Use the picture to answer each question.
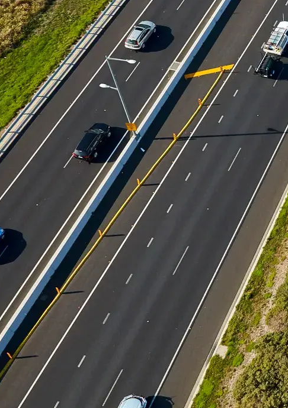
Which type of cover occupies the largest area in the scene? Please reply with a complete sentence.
Most of the picture is covered by paved ground.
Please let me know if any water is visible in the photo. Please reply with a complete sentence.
No, the picture contains no water.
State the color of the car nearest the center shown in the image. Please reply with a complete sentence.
The color of the car nearest the center is black.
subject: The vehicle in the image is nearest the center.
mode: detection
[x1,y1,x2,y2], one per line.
[71,126,110,163]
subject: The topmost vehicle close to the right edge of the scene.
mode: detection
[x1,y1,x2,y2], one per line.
[263,22,288,59]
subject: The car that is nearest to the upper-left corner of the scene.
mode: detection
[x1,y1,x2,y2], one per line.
[123,21,156,52]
